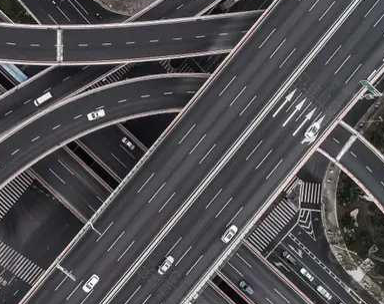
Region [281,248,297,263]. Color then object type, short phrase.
gray car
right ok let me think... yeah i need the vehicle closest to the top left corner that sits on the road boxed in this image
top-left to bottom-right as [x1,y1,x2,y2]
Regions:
[0,64,26,83]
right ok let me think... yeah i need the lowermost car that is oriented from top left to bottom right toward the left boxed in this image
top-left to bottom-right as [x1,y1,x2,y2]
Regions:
[120,136,136,152]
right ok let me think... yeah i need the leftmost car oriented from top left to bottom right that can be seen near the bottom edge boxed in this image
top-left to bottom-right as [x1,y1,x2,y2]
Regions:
[238,279,255,296]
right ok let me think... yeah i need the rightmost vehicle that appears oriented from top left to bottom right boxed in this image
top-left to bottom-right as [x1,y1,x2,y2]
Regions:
[316,284,334,301]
